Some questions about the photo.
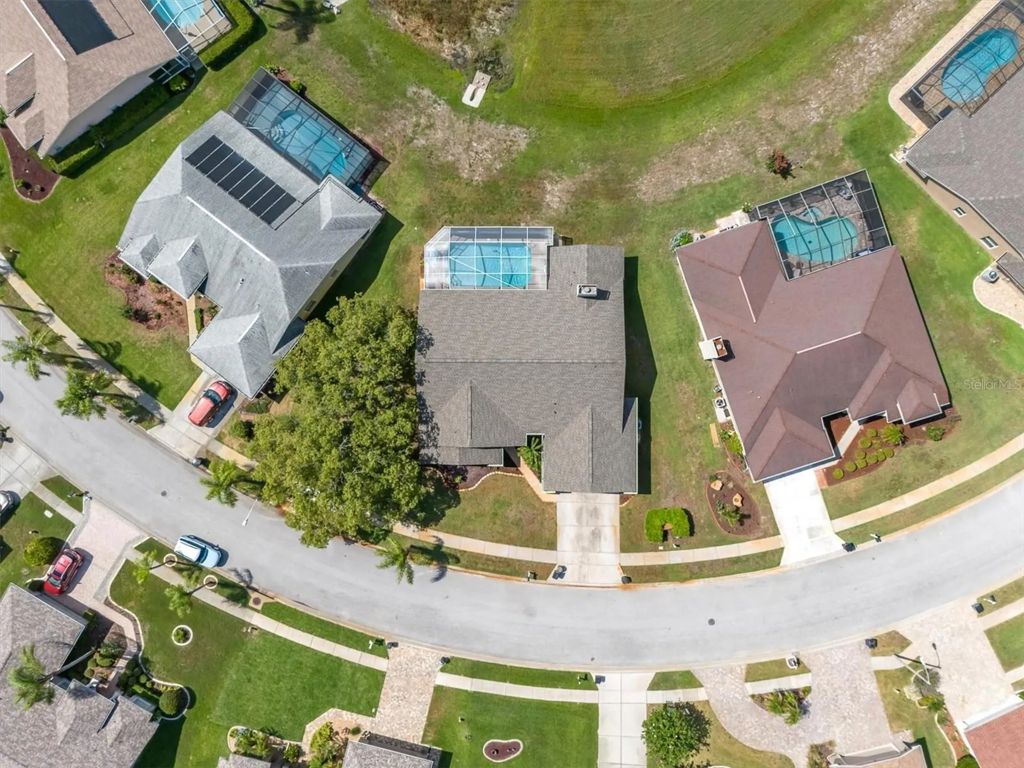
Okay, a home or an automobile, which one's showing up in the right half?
home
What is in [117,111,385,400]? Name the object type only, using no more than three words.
house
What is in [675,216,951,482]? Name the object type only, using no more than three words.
house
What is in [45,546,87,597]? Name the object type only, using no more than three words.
car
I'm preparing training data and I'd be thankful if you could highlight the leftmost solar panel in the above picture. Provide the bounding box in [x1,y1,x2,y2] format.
[39,0,115,54]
